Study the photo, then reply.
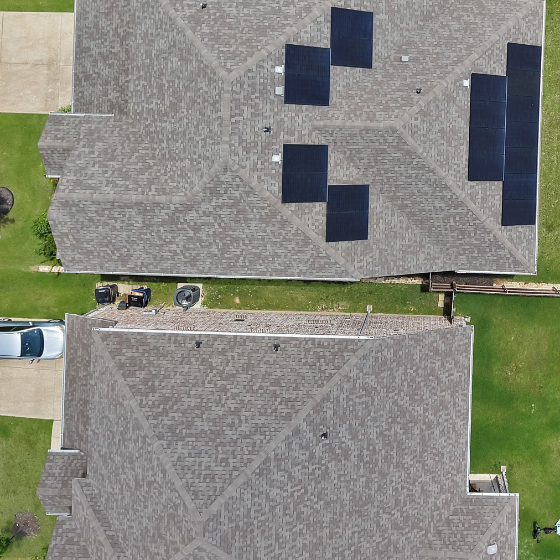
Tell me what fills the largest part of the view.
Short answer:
buildings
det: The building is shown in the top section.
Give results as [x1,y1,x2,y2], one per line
[37,0,548,283]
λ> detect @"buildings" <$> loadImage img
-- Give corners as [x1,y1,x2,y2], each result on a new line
[37,0,548,283]
[37,301,522,560]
